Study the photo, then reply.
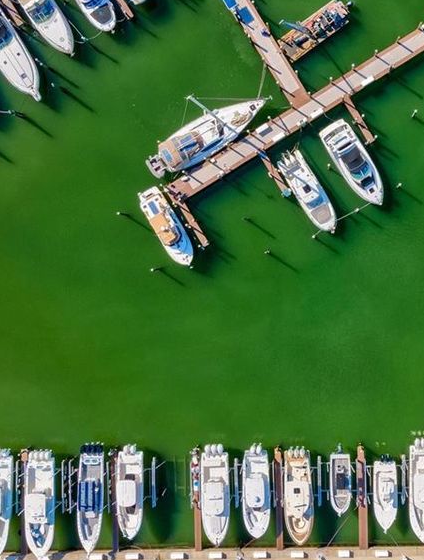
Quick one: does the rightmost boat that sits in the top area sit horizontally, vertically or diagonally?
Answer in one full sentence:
What the image shows is the rightmost boat that sits in the top area lying diagonally.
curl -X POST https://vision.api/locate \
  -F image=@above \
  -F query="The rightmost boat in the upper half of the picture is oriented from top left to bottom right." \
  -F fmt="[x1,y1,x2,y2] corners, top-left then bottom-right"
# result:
[317,114,386,209]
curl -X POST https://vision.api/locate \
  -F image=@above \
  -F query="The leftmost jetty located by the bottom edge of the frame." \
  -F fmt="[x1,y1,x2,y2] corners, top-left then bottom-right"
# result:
[14,449,34,552]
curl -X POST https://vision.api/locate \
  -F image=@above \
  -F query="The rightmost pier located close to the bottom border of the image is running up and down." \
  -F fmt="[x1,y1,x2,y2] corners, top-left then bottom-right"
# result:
[354,445,370,546]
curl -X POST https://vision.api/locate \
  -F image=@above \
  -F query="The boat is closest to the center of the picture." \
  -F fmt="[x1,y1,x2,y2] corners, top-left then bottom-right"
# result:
[137,186,195,269]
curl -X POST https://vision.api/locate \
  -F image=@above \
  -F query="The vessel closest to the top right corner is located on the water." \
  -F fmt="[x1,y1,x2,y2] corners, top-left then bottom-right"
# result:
[279,0,349,63]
